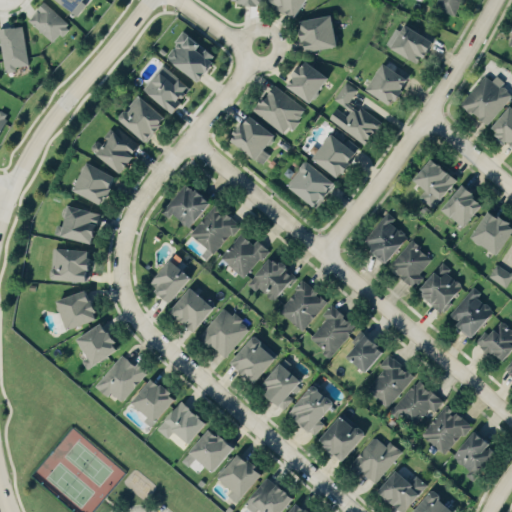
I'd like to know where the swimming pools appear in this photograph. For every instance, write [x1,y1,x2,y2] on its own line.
[123,406,150,434]
[291,356,310,378]
[44,310,66,337]
[155,242,176,268]
[140,59,162,84]
[303,121,334,155]
[212,485,238,508]
[325,383,345,404]
[186,238,207,256]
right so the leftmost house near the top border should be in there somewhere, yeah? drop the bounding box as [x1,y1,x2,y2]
[0,24,30,70]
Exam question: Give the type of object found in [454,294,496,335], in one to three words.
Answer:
house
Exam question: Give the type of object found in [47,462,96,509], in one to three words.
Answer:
tennis court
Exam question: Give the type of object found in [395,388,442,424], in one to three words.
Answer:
house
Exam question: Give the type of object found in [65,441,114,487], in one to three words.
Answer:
tennis court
